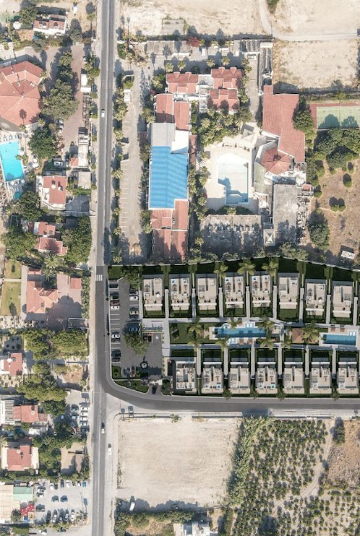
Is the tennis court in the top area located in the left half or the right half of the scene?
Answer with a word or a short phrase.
right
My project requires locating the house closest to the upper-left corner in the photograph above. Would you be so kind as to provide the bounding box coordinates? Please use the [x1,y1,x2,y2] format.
[33,14,67,37]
